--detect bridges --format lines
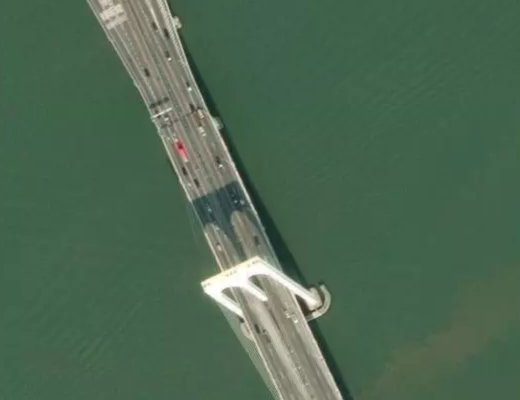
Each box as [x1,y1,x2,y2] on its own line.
[87,0,344,400]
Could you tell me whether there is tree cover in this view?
No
